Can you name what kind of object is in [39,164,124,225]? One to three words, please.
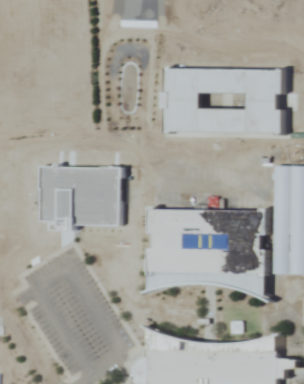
building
